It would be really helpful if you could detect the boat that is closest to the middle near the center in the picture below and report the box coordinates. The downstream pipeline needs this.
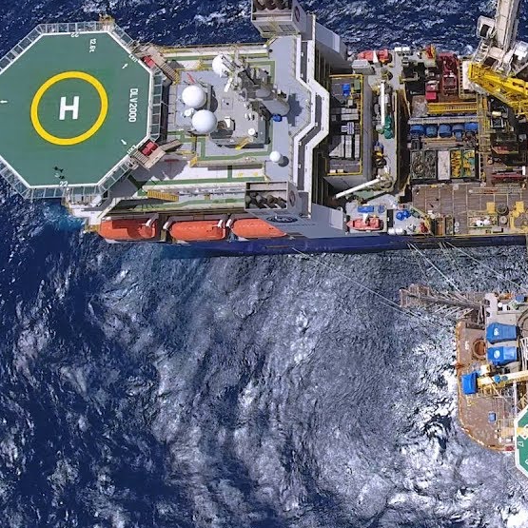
[230,210,284,240]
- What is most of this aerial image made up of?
water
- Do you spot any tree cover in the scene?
No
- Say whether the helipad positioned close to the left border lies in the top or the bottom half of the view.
top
